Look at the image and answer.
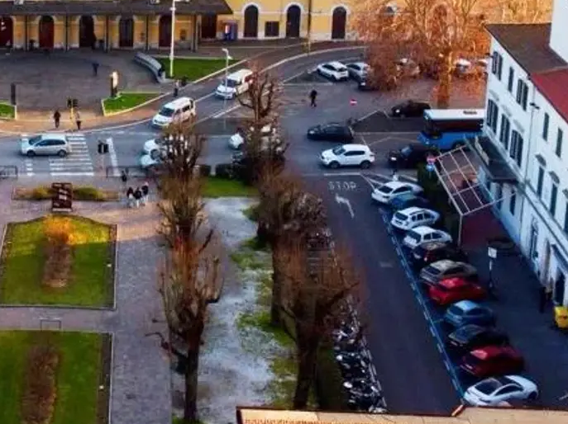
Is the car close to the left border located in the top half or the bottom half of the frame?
top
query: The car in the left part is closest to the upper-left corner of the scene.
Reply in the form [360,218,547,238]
[19,128,73,153]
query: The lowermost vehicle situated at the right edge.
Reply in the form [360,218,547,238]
[462,367,542,402]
